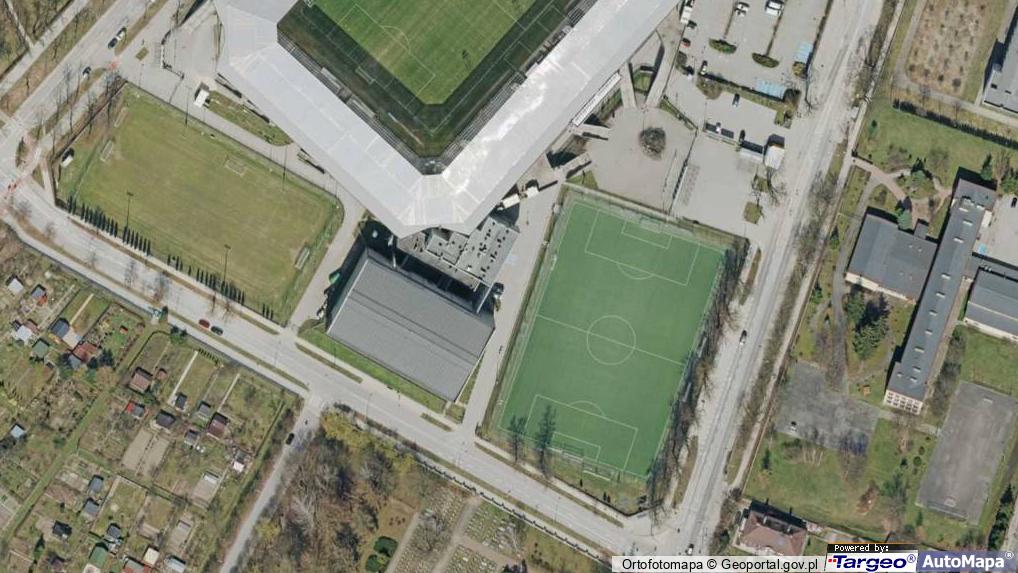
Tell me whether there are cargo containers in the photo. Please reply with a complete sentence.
No, there appears to be no cargo container in this shot.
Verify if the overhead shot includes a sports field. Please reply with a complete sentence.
Yes, I can see a sports field in this picture.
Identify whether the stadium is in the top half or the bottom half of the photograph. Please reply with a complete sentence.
The stadium sits in the top half of the picture.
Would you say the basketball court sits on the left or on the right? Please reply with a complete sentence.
It is on the right.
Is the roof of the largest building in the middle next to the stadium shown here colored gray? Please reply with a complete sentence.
Yes, gray is the color of the roof of the largest building in the middle next to the stadium.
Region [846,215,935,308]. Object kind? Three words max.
building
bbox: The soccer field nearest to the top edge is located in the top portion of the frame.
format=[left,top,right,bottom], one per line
[294,0,564,143]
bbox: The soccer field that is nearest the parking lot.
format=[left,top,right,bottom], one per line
[494,199,727,480]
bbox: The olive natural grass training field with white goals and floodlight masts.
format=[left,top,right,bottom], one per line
[72,99,323,318]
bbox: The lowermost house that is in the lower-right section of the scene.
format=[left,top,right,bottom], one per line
[730,512,807,564]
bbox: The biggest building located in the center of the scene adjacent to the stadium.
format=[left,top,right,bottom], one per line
[323,248,494,404]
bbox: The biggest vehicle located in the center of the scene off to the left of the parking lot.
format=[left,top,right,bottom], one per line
[492,281,508,293]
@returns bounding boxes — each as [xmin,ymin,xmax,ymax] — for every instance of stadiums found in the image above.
[215,0,691,241]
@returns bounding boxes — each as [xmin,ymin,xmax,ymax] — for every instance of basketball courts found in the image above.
[917,381,1018,525]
